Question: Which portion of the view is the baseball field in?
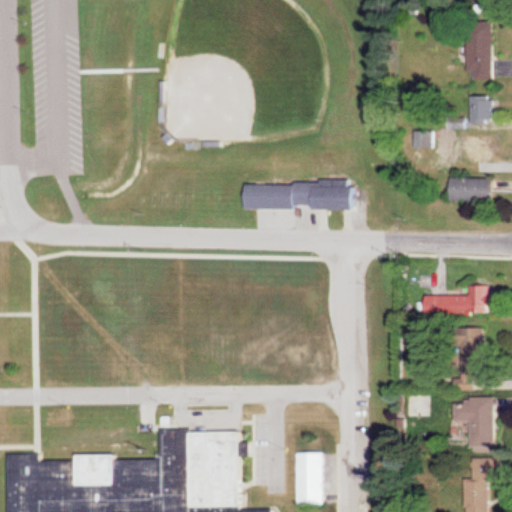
top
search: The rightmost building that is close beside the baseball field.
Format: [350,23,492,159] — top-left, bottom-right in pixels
[242,178,356,210]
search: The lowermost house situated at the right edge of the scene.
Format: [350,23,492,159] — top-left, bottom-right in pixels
[463,459,494,512]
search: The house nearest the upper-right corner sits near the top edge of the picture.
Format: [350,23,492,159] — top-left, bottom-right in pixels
[466,22,496,80]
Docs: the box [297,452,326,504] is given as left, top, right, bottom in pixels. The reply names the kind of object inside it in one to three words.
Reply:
building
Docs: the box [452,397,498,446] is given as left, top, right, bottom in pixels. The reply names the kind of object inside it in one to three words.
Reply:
house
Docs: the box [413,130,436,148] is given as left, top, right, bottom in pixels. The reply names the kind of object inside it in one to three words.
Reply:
shed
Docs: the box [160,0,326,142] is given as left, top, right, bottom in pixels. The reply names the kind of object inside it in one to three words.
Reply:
baseball field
